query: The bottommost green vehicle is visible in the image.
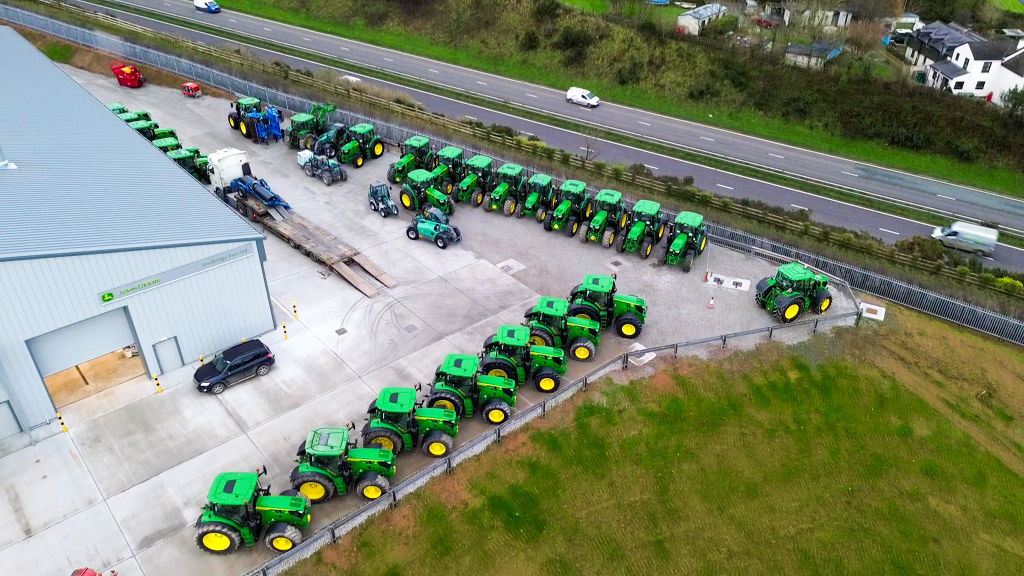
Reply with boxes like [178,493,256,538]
[189,468,316,554]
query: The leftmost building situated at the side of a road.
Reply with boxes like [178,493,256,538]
[0,13,277,440]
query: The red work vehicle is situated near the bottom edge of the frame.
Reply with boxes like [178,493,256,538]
[70,551,112,576]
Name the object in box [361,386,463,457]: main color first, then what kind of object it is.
green work vehicle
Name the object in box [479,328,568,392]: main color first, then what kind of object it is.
green work vehicle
